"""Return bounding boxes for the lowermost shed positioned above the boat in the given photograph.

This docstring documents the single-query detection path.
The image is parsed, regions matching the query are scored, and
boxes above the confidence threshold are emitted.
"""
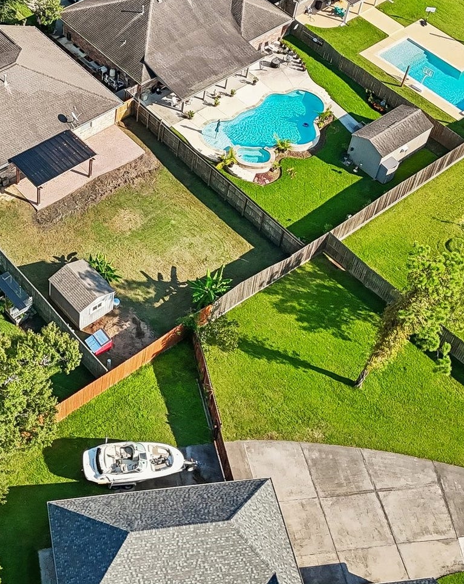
[47,262,118,331]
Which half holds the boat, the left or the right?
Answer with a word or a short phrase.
left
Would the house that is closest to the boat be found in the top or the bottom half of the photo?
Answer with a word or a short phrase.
bottom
